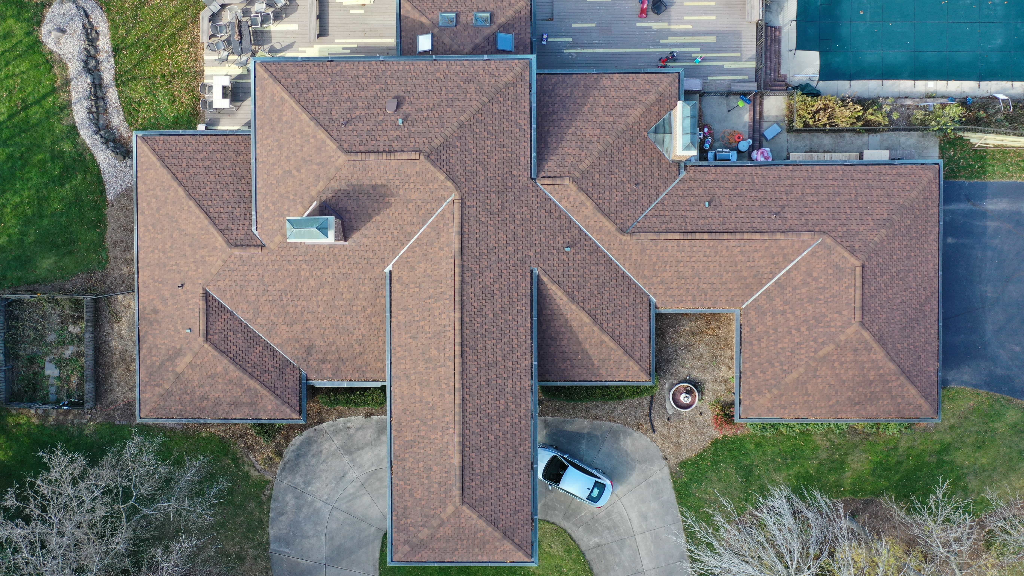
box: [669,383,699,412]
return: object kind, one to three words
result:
fountain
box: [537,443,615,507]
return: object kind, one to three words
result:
car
